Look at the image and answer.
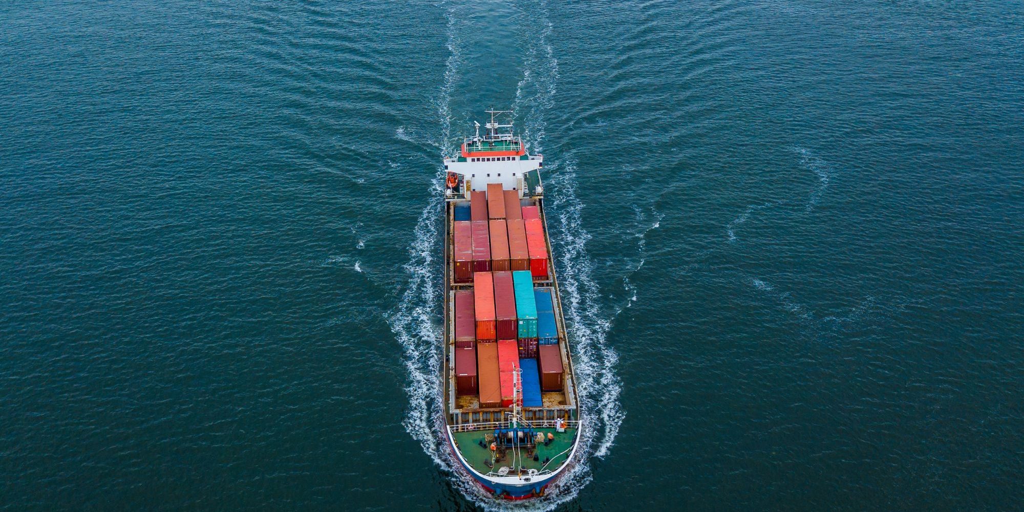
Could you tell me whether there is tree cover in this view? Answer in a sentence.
No, the scene doesn't show any tree cover.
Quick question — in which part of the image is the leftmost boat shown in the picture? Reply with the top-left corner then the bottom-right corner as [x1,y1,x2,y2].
[445,172,460,188]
